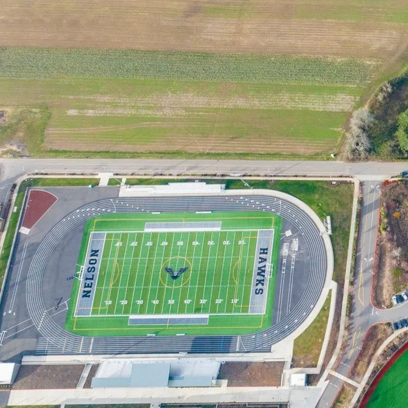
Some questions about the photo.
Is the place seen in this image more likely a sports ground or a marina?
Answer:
sports ground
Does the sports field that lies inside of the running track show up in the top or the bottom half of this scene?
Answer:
bottom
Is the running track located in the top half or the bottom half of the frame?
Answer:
bottom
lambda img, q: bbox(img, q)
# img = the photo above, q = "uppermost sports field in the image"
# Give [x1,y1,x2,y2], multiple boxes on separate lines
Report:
[65,211,283,336]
